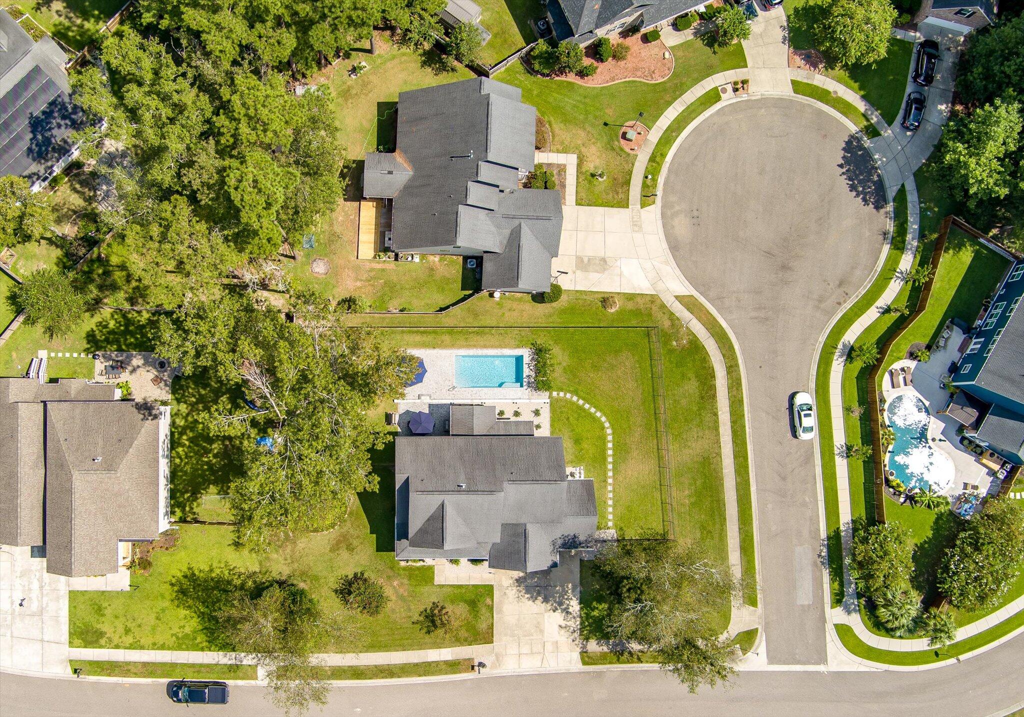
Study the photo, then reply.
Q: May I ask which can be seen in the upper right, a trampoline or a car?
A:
car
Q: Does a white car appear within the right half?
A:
Yes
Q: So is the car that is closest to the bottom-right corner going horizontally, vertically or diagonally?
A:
vertically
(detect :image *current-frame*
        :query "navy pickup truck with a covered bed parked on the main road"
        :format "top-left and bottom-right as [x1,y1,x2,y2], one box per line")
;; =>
[171,678,232,705]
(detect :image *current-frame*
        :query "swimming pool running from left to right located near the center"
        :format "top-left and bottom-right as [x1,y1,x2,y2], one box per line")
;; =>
[453,354,525,389]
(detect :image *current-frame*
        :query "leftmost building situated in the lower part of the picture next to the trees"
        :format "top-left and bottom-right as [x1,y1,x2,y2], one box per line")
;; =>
[0,378,171,577]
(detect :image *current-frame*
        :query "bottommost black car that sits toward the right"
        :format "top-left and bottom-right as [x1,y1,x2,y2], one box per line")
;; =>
[898,91,927,133]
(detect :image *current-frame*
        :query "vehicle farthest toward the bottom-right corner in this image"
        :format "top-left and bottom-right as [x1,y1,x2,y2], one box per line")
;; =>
[791,391,815,440]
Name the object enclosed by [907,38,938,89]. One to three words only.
car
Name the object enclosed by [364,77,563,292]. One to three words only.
house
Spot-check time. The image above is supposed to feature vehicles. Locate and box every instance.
[907,38,938,89]
[732,0,760,24]
[898,91,927,133]
[762,0,783,11]
[171,678,232,705]
[791,391,815,440]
